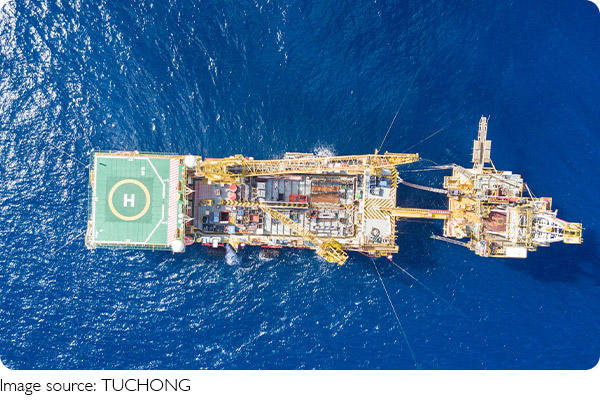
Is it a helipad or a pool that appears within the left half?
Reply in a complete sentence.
The one visible within the left half is a helipad.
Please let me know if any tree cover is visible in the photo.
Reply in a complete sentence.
No, there's no tree cover in this view.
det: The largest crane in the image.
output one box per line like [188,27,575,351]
[203,153,422,184]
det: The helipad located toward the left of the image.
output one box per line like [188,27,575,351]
[84,148,188,252]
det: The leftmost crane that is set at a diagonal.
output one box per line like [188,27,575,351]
[254,199,350,266]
